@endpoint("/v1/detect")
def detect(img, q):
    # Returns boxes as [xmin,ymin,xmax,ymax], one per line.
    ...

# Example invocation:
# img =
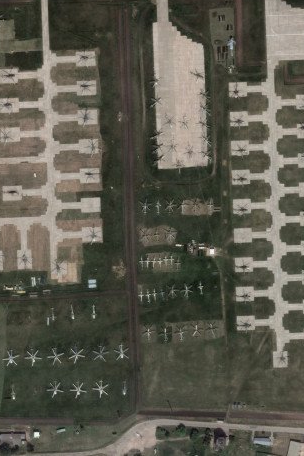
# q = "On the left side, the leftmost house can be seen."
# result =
[0,433,26,447]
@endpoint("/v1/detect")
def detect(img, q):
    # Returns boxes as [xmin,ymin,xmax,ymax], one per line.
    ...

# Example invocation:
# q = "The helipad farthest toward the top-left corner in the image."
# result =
[0,68,37,84]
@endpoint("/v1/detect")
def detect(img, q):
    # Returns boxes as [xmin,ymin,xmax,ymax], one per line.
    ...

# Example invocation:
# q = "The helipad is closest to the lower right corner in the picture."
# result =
[273,350,288,367]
